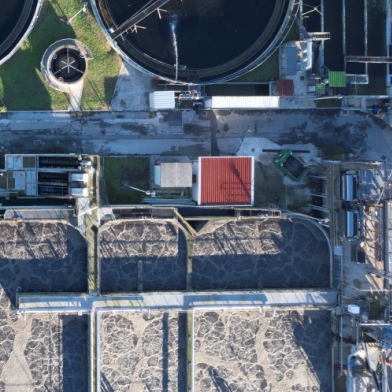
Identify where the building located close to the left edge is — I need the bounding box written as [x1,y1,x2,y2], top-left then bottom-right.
[0,155,91,198]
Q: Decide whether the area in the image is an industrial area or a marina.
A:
industrial area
